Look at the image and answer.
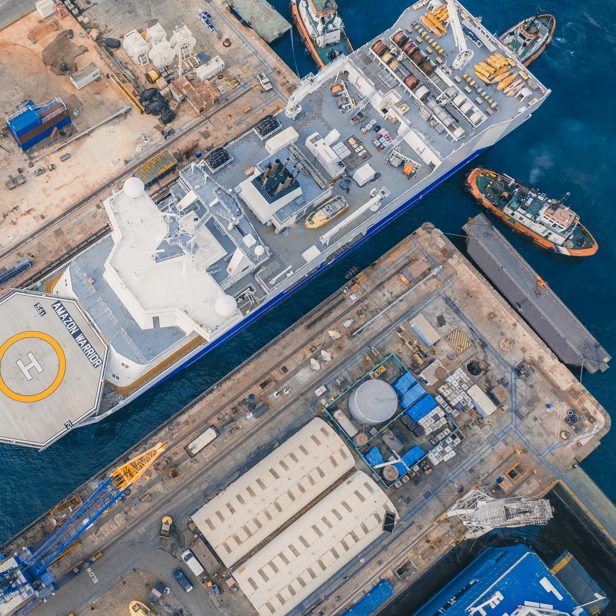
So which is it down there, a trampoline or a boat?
boat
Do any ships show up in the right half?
Yes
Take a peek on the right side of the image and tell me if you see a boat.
Yes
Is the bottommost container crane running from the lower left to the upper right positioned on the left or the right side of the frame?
left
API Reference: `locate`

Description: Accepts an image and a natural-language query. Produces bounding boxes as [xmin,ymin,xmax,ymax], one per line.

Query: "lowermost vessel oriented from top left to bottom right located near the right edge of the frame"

[457,212,615,377]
